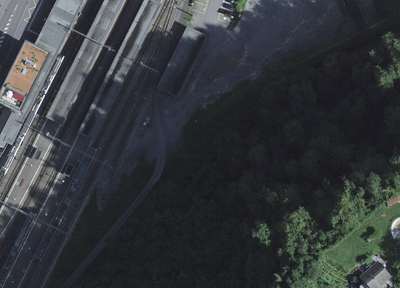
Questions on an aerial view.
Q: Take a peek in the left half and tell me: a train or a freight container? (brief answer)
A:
train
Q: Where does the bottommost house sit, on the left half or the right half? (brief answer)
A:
right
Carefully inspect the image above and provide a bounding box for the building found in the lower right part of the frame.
[358,262,392,288]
